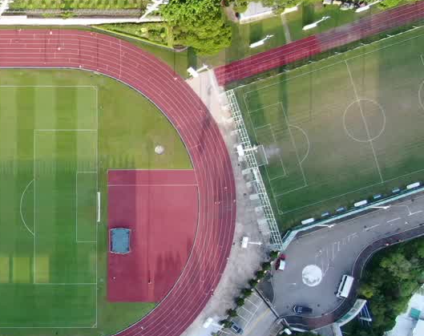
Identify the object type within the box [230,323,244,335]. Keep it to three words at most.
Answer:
vehicle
